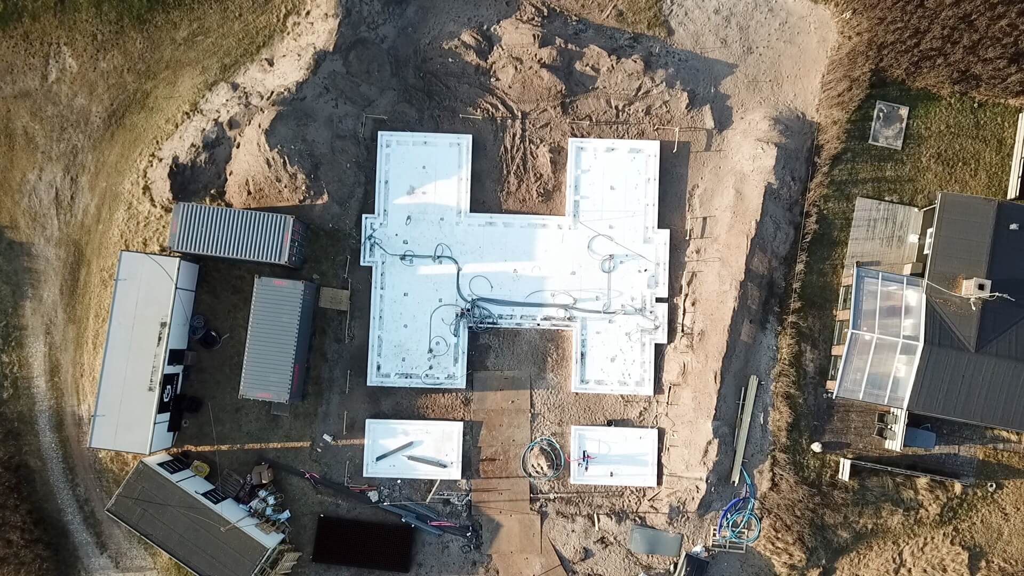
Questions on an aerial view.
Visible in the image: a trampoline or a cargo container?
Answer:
cargo container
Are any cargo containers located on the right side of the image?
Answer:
No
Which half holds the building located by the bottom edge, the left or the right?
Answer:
left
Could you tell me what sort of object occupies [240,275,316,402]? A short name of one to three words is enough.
shipping container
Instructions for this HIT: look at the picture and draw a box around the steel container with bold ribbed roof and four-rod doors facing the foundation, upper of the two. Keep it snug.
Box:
[171,201,307,267]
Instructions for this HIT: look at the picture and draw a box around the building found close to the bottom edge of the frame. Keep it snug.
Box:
[106,451,282,576]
